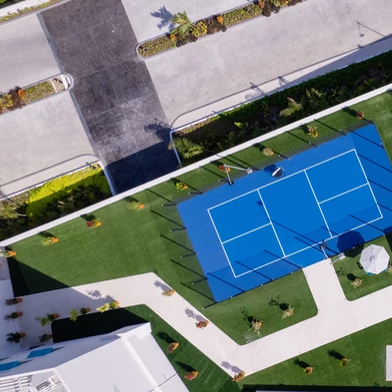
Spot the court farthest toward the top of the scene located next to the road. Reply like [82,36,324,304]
[177,123,392,302]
